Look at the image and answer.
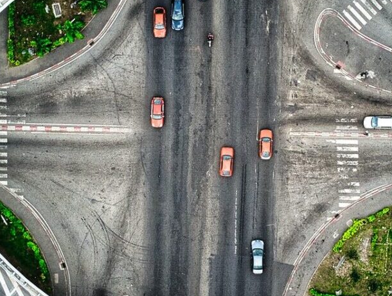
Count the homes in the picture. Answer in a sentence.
There are no homes in the image.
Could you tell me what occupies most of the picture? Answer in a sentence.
The bulk of the photo consists of paved ground.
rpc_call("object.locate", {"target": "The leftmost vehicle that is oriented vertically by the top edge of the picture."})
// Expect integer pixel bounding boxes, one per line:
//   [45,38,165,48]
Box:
[151,7,166,38]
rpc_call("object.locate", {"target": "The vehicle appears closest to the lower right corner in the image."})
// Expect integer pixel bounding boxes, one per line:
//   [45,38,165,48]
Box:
[250,240,267,275]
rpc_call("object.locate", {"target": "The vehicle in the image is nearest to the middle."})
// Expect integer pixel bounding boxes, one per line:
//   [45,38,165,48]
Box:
[220,147,234,179]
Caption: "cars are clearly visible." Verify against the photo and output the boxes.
[250,240,267,275]
[365,115,392,129]
[150,97,164,128]
[259,129,273,160]
[169,0,185,31]
[151,7,166,38]
[220,147,234,179]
